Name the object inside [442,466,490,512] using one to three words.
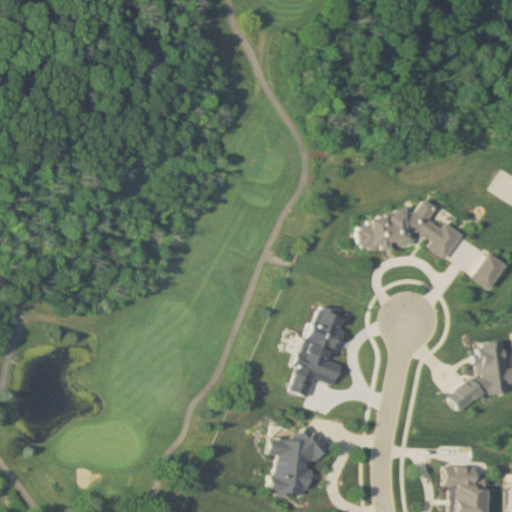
house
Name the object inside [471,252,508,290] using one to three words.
building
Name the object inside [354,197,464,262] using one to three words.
house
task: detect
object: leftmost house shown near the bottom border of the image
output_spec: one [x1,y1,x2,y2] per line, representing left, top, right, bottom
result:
[264,426,327,496]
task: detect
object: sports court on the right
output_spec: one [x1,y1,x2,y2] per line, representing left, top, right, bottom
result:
[486,171,512,218]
